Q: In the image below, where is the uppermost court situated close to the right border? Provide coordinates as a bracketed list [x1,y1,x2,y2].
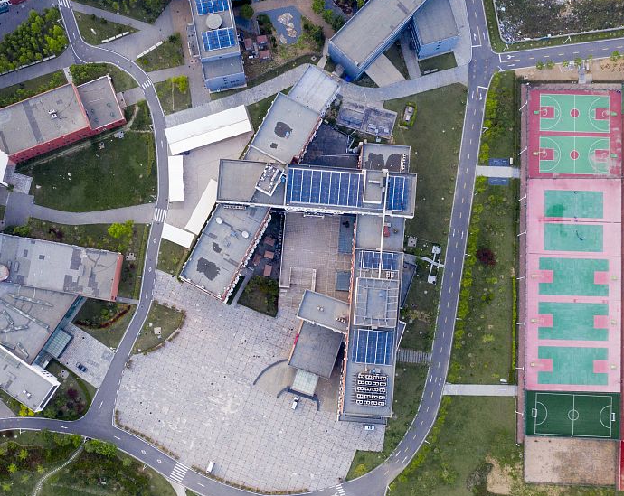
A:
[540,93,610,131]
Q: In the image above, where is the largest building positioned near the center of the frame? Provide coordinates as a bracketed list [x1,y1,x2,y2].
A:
[179,64,417,424]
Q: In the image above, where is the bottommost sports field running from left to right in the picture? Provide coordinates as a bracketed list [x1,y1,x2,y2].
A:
[524,439,619,488]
